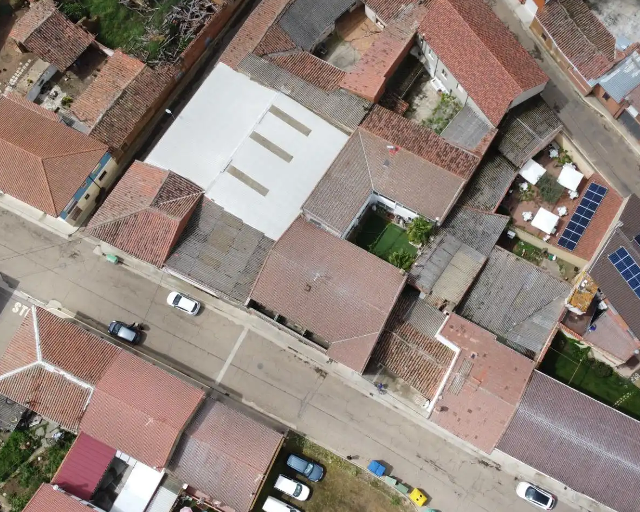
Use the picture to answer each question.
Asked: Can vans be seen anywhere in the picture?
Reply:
Yes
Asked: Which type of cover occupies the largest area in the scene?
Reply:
buildings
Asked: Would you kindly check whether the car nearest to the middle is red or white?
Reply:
white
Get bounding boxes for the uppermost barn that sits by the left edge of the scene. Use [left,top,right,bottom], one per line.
[9,0,99,78]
